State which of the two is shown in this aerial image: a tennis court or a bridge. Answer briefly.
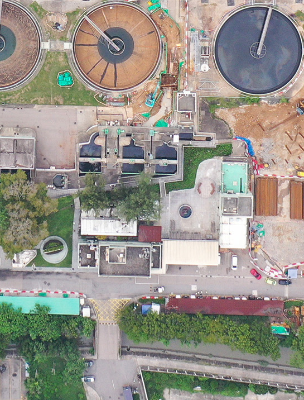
bridge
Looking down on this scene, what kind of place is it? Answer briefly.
industrial area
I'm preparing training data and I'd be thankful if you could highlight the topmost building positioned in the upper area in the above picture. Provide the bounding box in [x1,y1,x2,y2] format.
[177,90,196,113]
